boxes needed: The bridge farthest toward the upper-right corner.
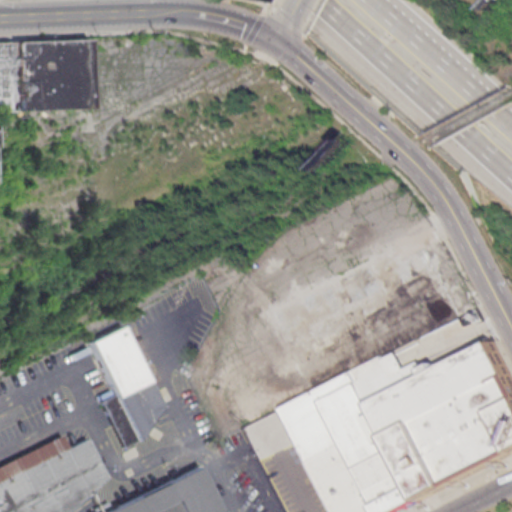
[415,86,512,150]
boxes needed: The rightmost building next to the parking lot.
[244,318,512,512]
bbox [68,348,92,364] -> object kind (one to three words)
vehicle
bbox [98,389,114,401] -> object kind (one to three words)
vehicle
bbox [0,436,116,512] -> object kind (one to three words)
shed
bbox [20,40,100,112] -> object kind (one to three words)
building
